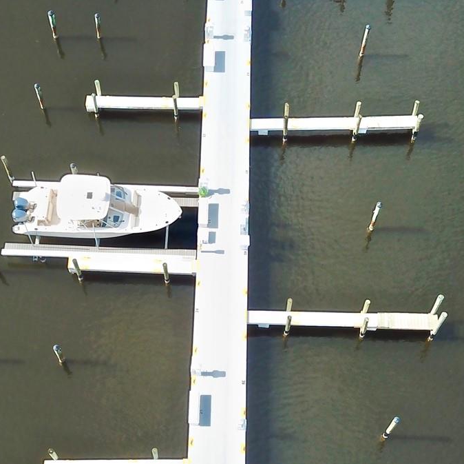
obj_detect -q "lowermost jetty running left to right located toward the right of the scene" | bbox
[248,310,435,334]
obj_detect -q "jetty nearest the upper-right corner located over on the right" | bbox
[250,116,417,137]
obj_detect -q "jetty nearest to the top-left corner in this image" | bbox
[85,96,203,113]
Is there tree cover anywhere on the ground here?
No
